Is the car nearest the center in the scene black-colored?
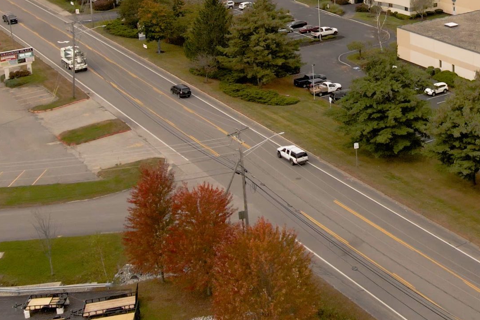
No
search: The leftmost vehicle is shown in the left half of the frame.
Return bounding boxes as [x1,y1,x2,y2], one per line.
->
[2,11,18,23]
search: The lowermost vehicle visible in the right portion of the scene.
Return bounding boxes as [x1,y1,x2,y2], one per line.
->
[276,143,308,166]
